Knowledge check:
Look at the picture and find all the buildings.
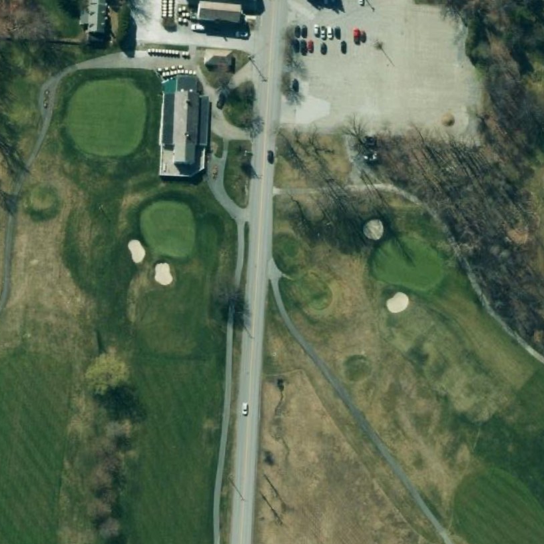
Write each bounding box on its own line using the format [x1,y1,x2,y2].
[199,1,241,24]
[79,0,105,33]
[159,75,209,178]
[205,49,233,64]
